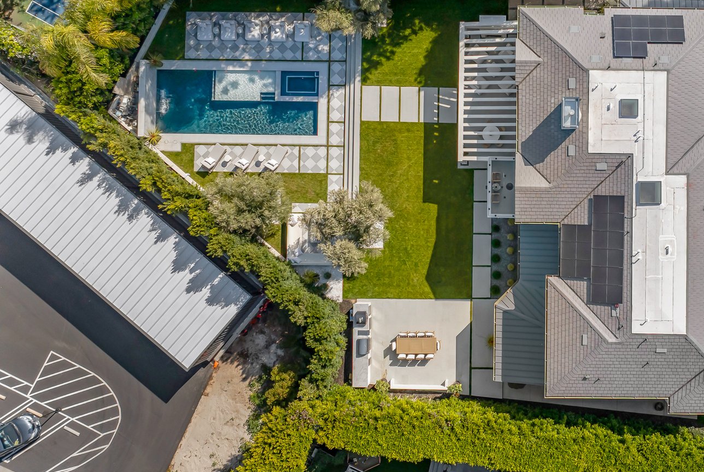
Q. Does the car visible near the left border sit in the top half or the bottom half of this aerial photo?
bottom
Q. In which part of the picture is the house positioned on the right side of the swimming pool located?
right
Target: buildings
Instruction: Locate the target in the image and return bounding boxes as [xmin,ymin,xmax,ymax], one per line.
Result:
[0,56,277,372]
[489,0,704,416]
